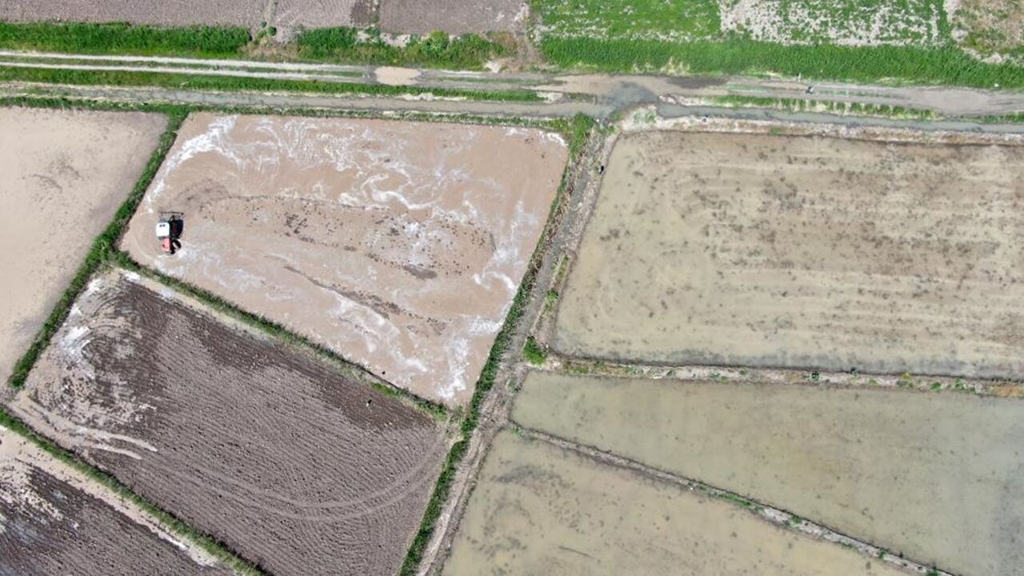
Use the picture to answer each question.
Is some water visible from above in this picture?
Yes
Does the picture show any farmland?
Yes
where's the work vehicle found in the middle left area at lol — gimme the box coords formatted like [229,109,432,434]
[156,222,180,255]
